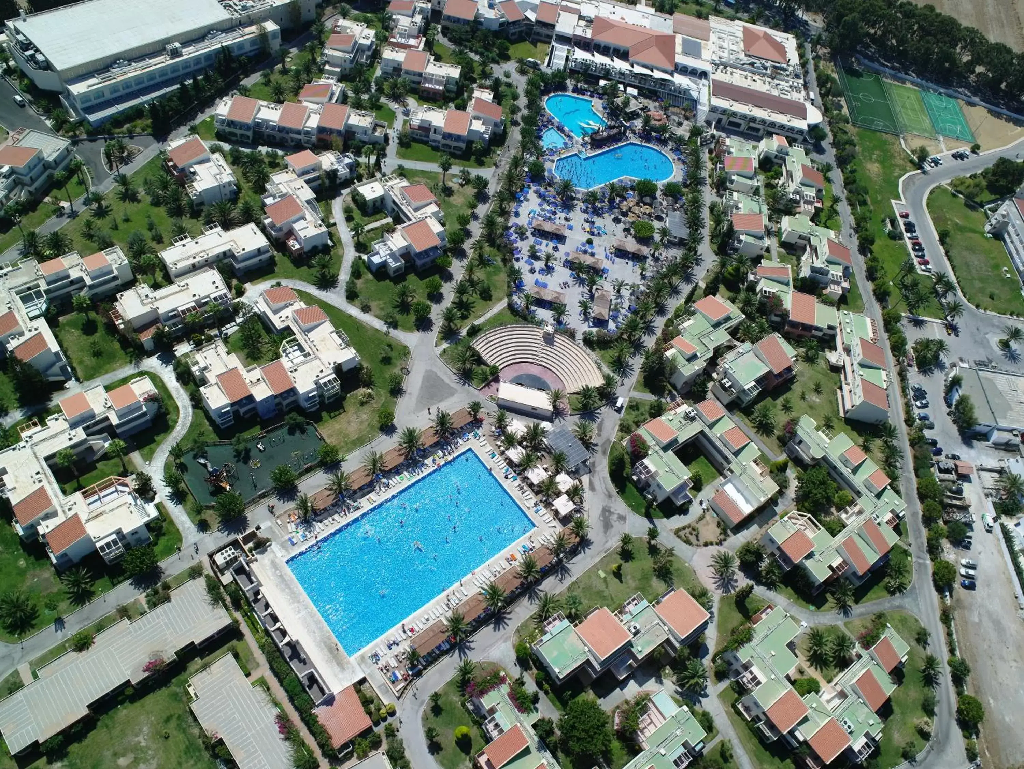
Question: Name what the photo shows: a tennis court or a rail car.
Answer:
tennis court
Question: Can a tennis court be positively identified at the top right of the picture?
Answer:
Yes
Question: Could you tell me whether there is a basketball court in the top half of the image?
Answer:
Yes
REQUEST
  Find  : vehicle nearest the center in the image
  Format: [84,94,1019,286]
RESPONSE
[613,394,626,411]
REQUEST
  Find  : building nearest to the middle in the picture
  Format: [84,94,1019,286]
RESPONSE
[496,380,555,418]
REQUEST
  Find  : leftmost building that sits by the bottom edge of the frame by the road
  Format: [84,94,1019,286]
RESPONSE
[0,574,234,759]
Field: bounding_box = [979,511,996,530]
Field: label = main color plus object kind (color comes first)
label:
white vehicle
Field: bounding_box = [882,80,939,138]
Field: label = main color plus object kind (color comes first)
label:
green tennis court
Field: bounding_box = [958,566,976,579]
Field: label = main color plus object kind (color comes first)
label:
white vehicle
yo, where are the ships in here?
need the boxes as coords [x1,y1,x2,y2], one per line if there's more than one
[592,114,624,139]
